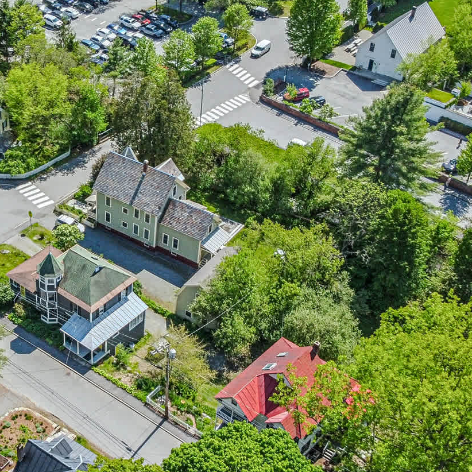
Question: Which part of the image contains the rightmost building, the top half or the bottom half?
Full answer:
The rightmost building is in the top half of the image.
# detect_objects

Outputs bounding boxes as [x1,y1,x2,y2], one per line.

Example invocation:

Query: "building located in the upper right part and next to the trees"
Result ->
[345,1,446,82]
